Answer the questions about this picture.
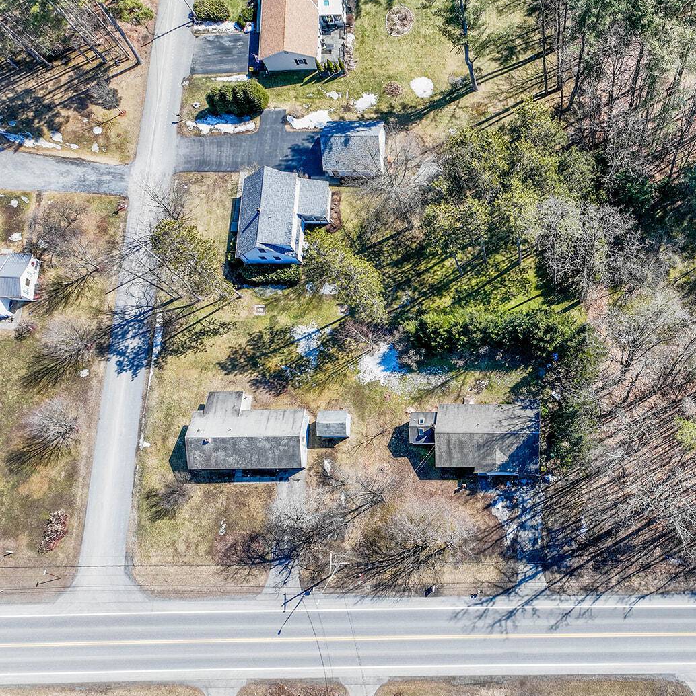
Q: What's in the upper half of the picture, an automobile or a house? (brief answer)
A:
house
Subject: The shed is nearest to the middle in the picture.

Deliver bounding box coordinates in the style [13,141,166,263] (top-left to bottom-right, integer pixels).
[314,410,350,438]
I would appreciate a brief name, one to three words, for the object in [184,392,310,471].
house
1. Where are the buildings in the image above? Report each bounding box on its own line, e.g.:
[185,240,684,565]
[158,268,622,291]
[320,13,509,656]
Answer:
[0,252,39,310]
[237,164,336,265]
[259,0,346,69]
[314,410,350,438]
[408,405,539,475]
[184,392,310,471]
[320,121,385,178]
